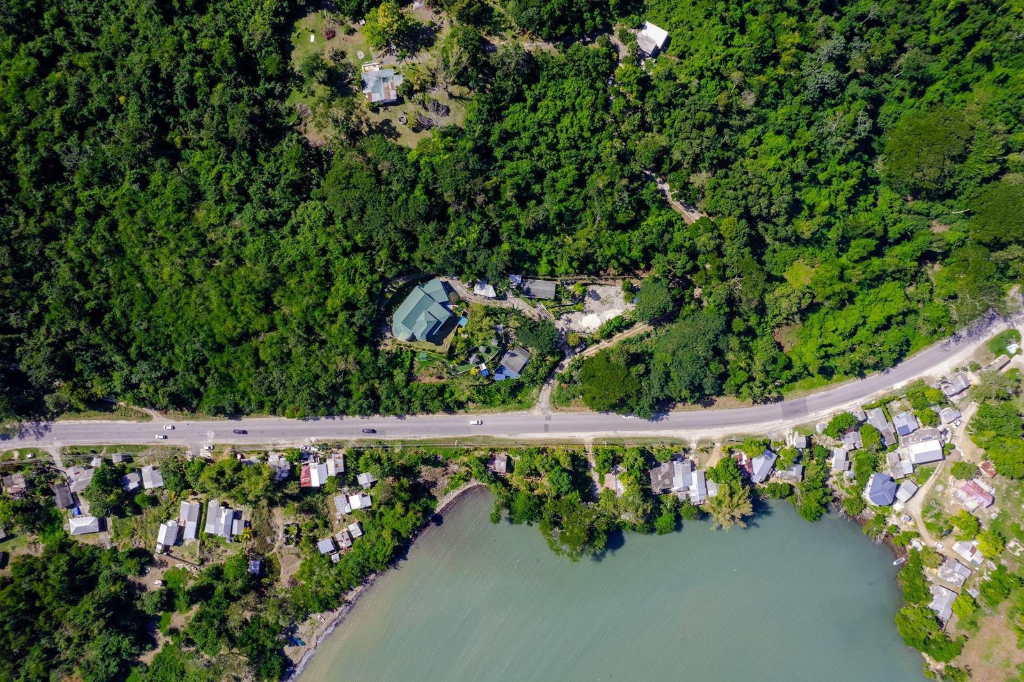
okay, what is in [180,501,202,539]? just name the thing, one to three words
house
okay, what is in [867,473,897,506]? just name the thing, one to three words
house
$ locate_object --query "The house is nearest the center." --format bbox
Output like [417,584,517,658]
[500,346,529,374]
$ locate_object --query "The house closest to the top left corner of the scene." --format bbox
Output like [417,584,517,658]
[362,69,403,104]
